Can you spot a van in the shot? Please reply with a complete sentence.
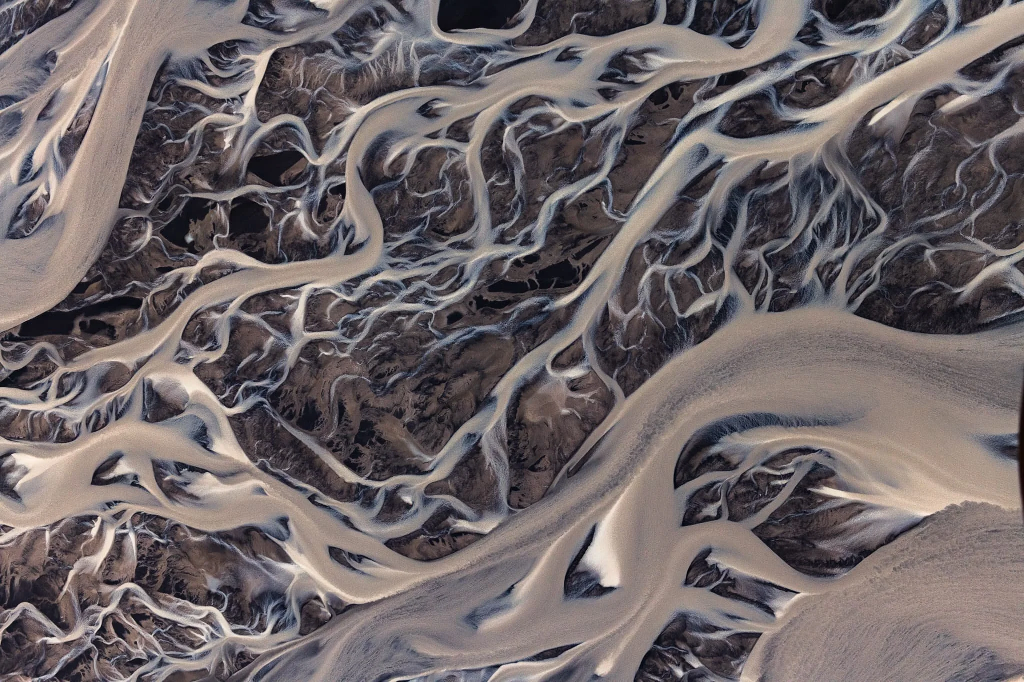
No, there's no van here.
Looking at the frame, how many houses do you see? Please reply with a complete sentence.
No houses are visible.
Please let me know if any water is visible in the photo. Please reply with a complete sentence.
Yes, some water is visible.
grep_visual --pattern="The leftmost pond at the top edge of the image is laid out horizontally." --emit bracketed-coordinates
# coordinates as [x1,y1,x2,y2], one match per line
[437,0,521,32]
